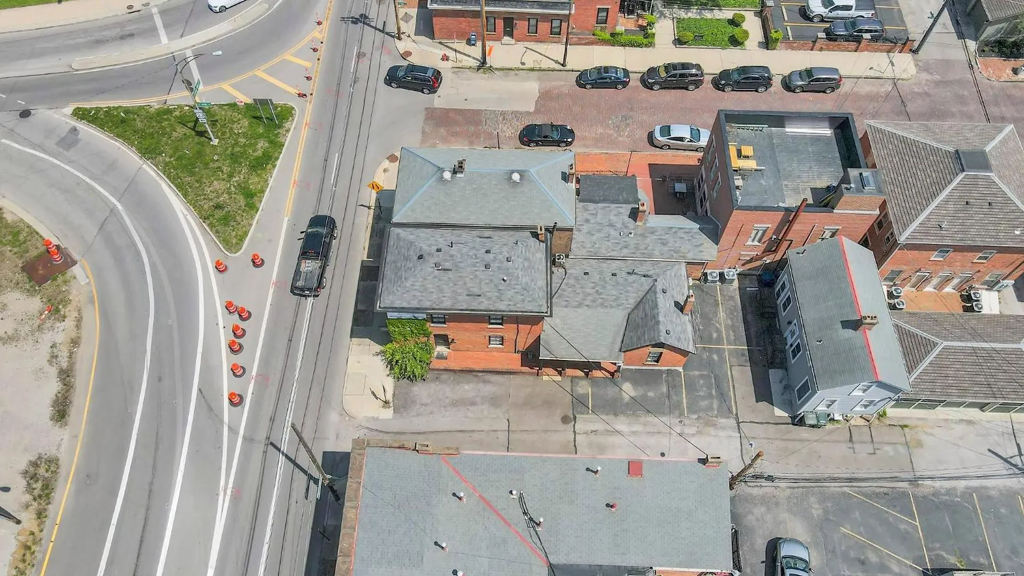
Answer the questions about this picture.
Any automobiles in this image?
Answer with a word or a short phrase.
Yes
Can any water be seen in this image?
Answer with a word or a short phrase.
No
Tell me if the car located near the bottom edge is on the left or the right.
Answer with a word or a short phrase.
right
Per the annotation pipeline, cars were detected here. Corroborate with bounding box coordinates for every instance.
[830,14,889,39]
[776,539,821,576]
[644,61,706,91]
[716,64,776,93]
[653,123,709,153]
[785,65,844,94]
[383,63,444,95]
[578,64,633,90]
[204,0,252,13]
[519,121,575,148]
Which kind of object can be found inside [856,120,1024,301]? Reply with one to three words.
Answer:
building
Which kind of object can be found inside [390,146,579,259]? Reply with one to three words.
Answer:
house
